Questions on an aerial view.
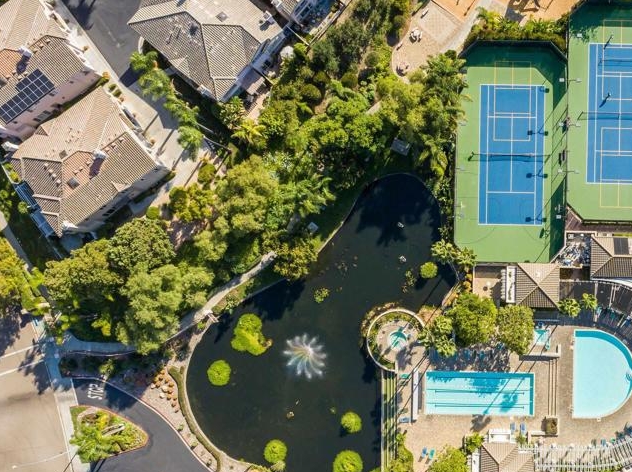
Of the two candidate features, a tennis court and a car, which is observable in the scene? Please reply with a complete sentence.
Of the two, only a tennis court appears.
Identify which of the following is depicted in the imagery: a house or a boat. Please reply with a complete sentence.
It is a house that can be seen here.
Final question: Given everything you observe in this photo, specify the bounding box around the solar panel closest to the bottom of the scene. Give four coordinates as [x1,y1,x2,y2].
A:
[614,238,629,255]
